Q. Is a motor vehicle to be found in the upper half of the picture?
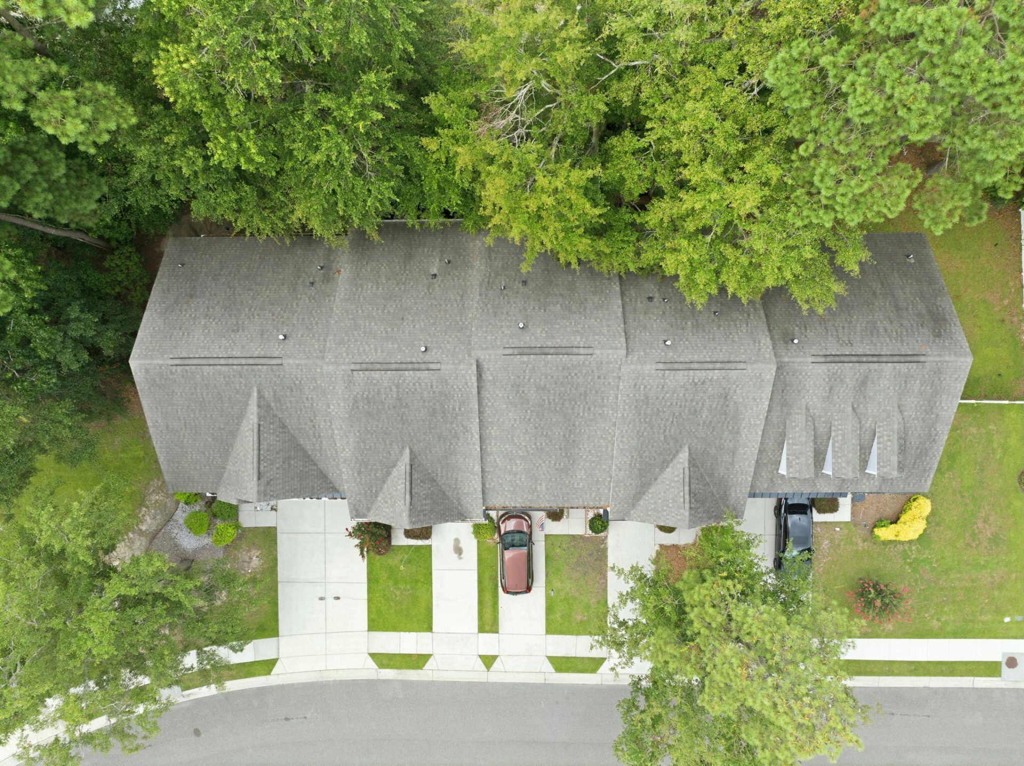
No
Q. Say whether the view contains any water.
No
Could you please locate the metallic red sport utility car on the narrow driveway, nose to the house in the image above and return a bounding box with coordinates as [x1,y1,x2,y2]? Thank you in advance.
[497,512,535,595]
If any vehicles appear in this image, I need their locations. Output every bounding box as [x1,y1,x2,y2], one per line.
[497,512,535,595]
[774,498,817,578]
